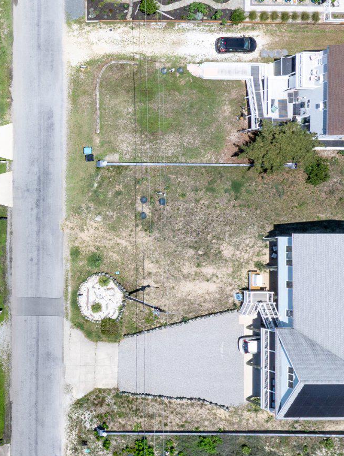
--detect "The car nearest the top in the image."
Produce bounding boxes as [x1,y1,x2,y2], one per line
[215,35,255,54]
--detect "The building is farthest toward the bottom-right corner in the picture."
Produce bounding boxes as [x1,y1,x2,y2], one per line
[230,233,344,419]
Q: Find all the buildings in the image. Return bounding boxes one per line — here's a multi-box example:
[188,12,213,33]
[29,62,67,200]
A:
[261,43,344,158]
[230,233,344,419]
